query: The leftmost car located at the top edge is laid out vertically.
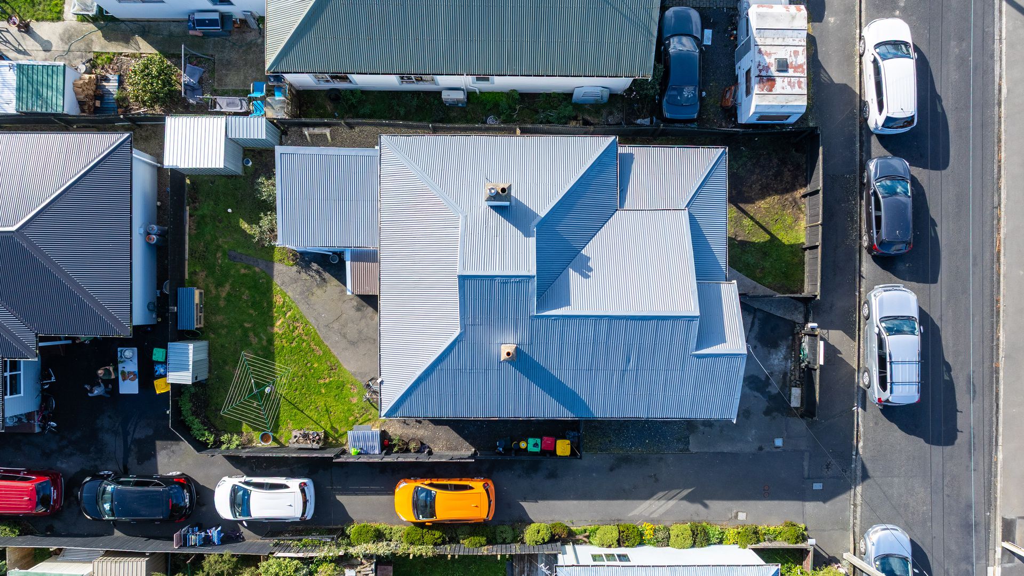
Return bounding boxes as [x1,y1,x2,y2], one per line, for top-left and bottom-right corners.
[656,7,711,123]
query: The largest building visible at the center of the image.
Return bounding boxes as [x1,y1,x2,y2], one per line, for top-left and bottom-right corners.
[279,133,746,420]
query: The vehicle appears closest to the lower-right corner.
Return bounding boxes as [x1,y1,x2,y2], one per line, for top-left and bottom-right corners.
[854,521,914,576]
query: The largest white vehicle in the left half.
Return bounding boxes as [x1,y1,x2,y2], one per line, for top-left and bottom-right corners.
[215,473,317,528]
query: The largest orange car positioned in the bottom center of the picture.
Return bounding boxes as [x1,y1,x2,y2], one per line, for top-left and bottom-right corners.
[395,474,495,529]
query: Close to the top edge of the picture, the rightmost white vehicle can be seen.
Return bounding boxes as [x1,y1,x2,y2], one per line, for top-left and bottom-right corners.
[855,19,920,137]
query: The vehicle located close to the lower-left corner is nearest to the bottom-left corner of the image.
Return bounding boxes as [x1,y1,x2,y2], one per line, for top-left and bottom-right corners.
[0,465,70,517]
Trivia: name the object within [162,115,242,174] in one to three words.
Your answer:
shed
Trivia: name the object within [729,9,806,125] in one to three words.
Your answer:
camper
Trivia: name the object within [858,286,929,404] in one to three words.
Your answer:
car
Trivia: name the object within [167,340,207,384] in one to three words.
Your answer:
shed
